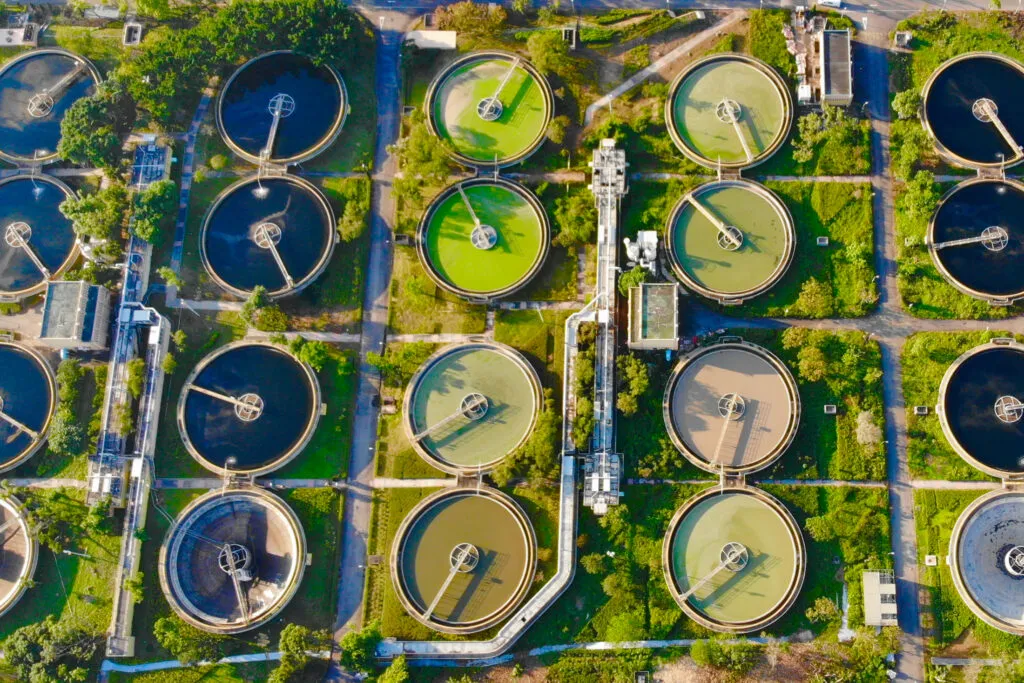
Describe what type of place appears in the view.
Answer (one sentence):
This looks like an industrial area.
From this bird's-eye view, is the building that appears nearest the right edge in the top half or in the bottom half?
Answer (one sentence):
You can find the building that appears nearest the right edge in the bottom half.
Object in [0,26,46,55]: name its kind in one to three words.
building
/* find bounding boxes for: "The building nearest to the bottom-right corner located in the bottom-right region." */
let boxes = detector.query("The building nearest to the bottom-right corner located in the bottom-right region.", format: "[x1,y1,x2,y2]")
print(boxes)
[860,570,898,626]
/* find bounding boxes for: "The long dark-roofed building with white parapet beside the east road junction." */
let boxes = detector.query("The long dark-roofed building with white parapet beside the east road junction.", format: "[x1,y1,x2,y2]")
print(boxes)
[806,29,854,105]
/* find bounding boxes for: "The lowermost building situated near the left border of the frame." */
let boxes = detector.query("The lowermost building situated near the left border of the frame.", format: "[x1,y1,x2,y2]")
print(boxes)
[40,281,113,349]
